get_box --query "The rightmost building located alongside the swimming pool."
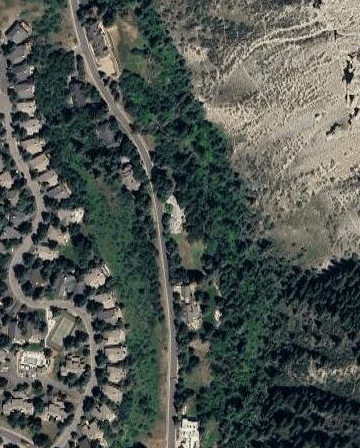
[60,357,85,380]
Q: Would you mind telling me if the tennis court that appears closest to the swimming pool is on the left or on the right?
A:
left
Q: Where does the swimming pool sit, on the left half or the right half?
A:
left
